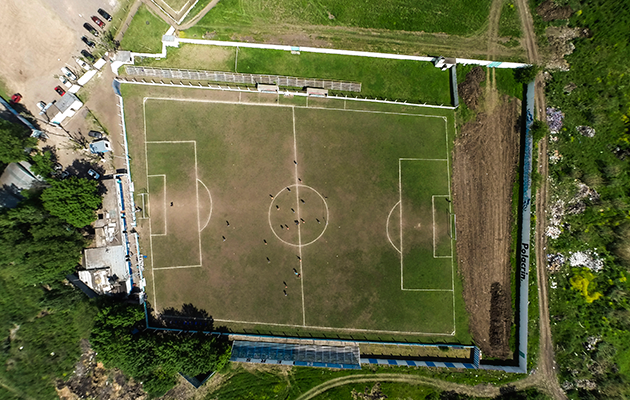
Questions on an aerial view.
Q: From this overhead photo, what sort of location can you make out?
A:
sports ground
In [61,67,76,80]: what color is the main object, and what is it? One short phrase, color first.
white vehicle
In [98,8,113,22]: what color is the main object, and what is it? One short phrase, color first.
black car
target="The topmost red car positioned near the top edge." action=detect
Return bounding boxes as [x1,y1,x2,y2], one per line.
[90,15,106,28]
